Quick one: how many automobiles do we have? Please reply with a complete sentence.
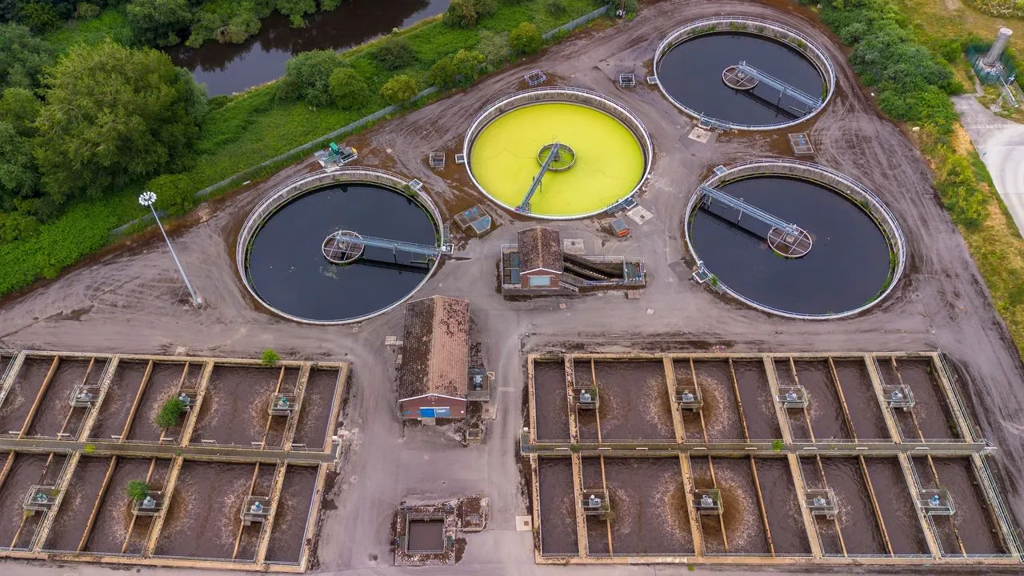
I count no automobiles.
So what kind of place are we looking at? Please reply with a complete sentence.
The area seen from above is an industrial area.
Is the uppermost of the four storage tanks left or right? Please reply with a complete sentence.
The uppermost of the four storage tanks is on the right side of the image.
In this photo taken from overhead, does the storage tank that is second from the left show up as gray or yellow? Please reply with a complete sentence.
The color of the storage tank that is second from the left is yellow.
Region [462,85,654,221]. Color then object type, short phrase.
yellow storage tank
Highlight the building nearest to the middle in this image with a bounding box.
[502,228,565,296]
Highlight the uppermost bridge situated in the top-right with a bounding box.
[736,60,829,116]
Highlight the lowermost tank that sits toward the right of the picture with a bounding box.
[686,159,906,322]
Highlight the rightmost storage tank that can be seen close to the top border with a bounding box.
[654,16,836,132]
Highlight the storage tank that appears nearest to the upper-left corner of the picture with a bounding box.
[235,166,450,326]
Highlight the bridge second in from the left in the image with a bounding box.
[515,145,560,219]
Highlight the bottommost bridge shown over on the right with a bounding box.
[691,184,798,237]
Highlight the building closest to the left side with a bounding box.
[394,295,469,427]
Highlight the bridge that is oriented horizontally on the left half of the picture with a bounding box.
[337,233,450,270]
